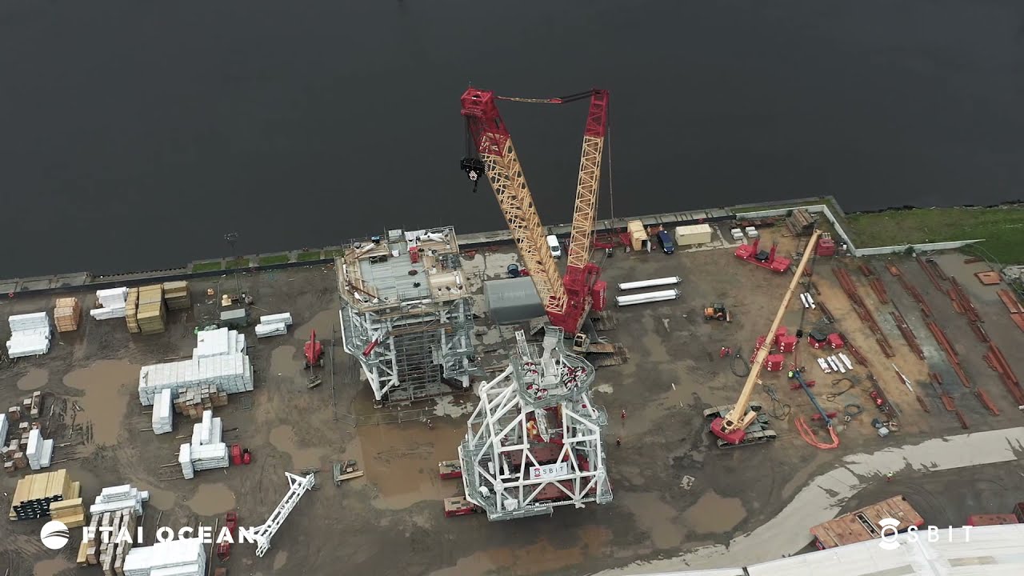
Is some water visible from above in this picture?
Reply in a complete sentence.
Yes, water can be seen from above here.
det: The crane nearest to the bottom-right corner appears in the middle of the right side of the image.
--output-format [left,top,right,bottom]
[703,223,825,450]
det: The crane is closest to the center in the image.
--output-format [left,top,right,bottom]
[461,80,624,358]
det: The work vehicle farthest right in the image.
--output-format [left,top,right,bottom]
[702,298,738,320]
